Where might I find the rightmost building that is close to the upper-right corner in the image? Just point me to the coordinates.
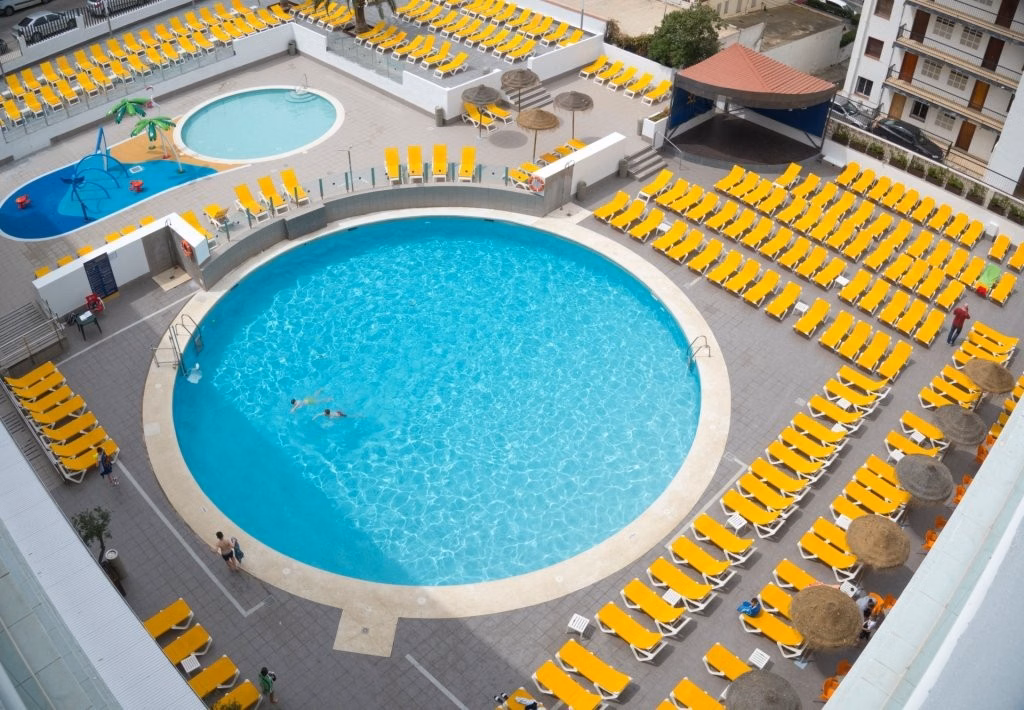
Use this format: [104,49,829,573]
[840,0,1024,191]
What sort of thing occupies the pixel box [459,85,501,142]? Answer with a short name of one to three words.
umbrella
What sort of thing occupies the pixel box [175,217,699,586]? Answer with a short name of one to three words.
swimming pool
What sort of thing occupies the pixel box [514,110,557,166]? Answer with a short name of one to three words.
umbrella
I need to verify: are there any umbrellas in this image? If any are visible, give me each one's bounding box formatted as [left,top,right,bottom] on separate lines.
[459,85,501,142]
[786,585,864,666]
[958,363,1017,414]
[890,459,956,531]
[555,90,597,139]
[514,110,557,166]
[723,674,803,710]
[848,527,916,600]
[500,70,540,105]
[925,406,986,454]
